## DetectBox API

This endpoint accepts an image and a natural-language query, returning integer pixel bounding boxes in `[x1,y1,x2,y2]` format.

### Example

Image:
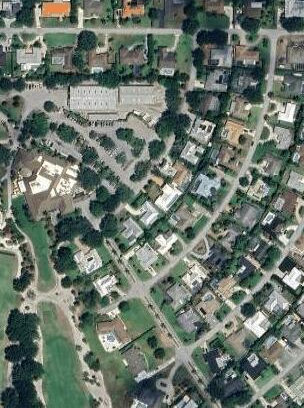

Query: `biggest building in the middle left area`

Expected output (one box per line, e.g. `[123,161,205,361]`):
[12,146,87,224]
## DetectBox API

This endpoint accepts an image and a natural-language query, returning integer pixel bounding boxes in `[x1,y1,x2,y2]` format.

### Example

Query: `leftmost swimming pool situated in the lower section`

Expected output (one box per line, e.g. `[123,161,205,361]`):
[99,330,119,348]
